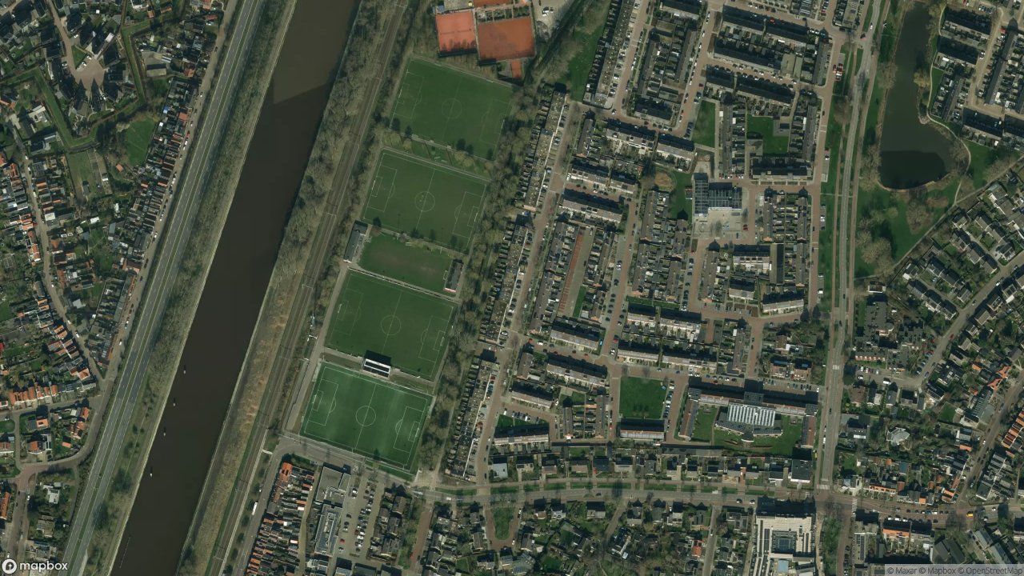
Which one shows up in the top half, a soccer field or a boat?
soccer field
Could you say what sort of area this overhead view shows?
residential area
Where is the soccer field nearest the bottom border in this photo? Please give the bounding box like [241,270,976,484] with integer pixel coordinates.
[298,362,433,471]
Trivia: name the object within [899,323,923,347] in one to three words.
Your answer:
building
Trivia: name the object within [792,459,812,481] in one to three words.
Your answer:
house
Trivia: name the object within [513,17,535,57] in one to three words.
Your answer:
tennis court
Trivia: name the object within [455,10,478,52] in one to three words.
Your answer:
tennis court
